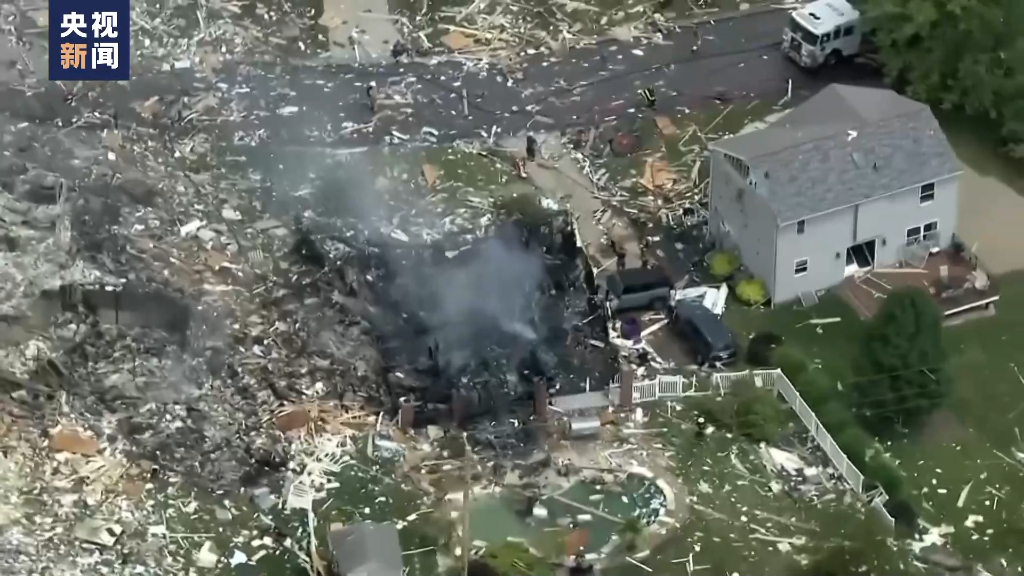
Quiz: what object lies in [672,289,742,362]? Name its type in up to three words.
car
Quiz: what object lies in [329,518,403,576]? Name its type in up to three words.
shed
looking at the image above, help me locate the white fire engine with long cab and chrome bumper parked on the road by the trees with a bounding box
[788,0,869,68]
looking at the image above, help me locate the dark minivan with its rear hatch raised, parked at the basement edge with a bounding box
[595,274,677,321]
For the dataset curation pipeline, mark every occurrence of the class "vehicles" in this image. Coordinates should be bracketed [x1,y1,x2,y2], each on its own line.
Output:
[595,274,677,321]
[788,0,869,68]
[672,289,742,362]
